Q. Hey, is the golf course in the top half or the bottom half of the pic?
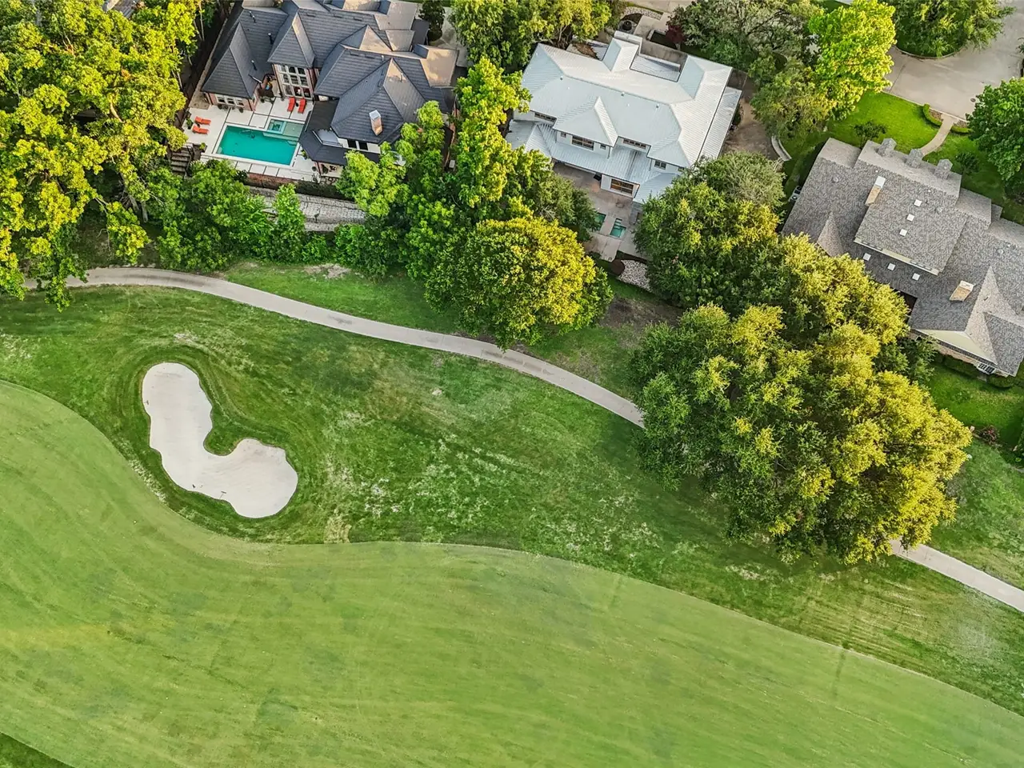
bottom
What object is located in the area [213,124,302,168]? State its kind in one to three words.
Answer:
swimming pool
